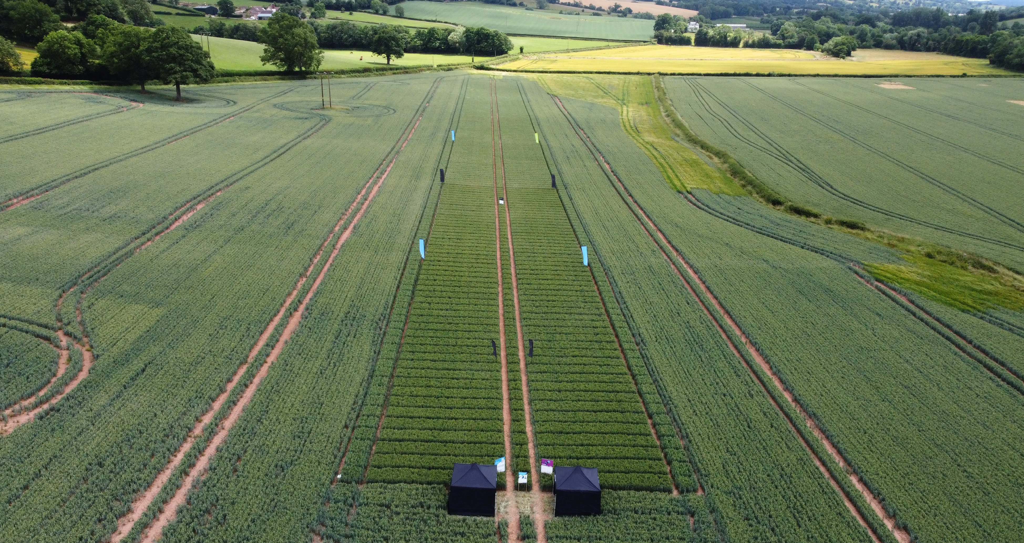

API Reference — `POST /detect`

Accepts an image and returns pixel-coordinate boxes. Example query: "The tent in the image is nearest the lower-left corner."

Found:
[448,460,504,518]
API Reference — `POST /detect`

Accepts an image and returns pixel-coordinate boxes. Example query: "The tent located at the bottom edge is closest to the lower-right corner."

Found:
[549,462,604,520]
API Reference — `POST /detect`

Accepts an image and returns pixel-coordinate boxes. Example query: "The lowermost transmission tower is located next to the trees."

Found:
[316,72,333,107]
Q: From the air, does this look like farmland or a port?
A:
farmland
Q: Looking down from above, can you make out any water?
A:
No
